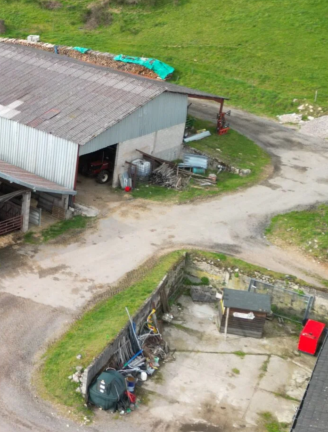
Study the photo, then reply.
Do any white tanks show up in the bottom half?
No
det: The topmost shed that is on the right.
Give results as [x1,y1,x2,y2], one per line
[218,289,270,338]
